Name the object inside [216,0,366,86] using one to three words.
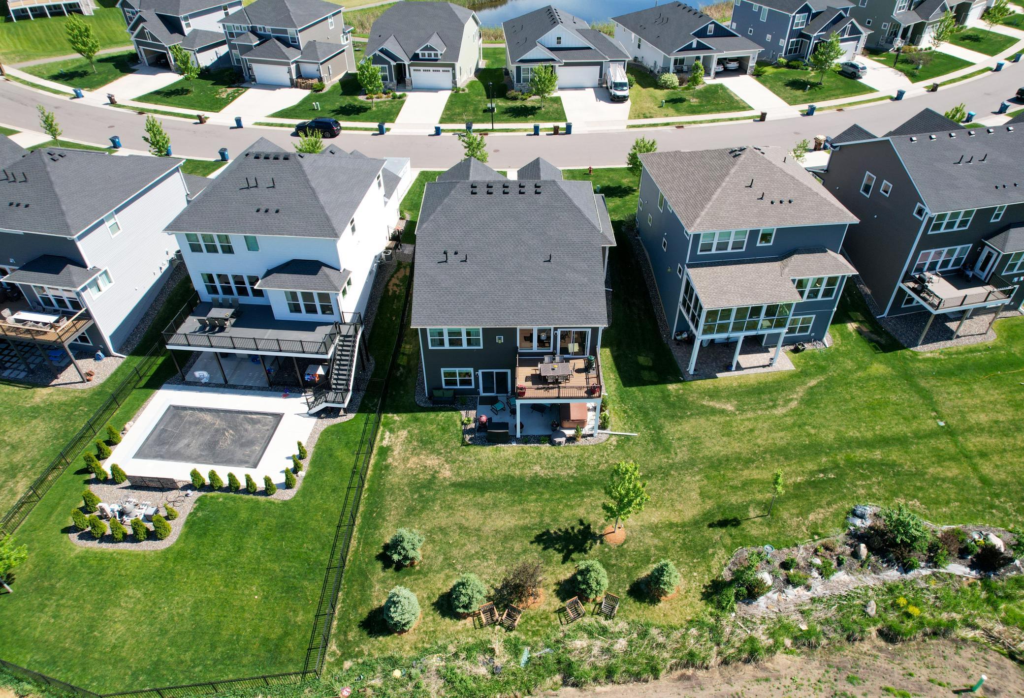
house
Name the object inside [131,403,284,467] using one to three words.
swimming pool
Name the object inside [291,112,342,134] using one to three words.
car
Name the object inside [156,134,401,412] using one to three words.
house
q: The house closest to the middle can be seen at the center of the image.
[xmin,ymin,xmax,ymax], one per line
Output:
[410,148,637,436]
